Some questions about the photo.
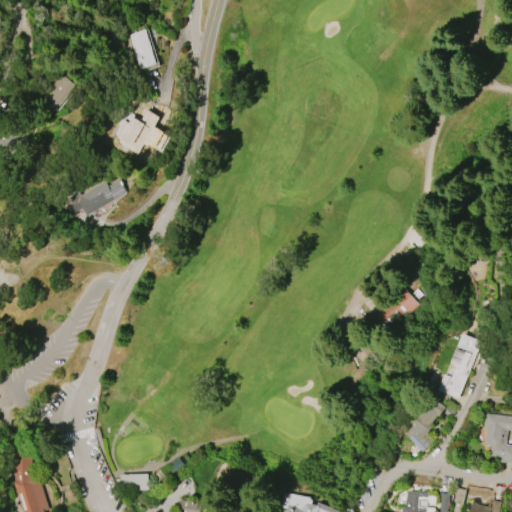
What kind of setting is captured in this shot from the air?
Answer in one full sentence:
This looks like a golf course.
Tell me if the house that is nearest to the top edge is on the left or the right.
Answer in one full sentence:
The house that is nearest to the top edge sits on the left side.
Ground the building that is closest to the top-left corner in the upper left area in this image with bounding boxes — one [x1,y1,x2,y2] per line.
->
[52,76,74,110]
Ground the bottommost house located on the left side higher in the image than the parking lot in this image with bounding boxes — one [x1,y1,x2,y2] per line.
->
[71,179,126,216]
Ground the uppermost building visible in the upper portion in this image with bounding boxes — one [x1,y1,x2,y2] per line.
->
[130,28,160,70]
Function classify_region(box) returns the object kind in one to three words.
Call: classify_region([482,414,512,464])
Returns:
house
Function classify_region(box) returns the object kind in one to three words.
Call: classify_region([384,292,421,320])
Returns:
house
